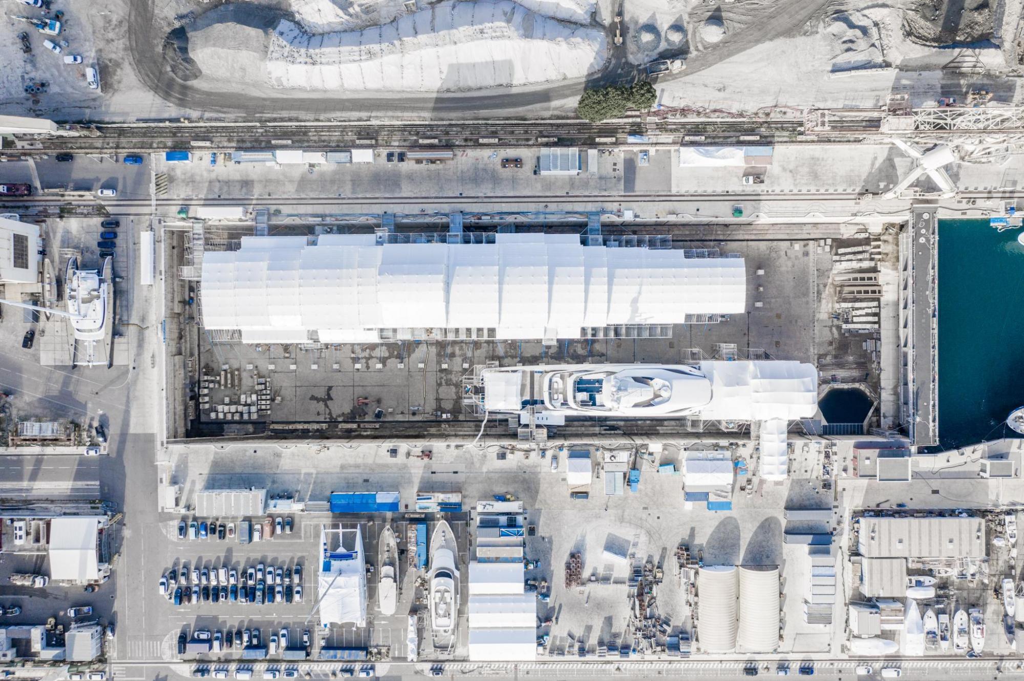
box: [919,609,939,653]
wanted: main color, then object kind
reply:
white boat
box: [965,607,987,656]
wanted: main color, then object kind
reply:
white boat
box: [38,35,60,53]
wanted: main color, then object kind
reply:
white vehicle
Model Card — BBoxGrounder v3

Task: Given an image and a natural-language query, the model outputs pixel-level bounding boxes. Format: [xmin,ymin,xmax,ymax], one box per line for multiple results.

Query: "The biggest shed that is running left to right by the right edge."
[854,513,986,558]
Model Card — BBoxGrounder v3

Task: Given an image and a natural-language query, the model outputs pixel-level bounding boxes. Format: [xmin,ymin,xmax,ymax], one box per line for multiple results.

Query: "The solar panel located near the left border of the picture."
[13,233,29,268]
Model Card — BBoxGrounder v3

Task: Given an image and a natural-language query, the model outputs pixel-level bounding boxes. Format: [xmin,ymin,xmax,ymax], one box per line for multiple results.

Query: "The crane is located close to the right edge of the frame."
[868,124,1024,201]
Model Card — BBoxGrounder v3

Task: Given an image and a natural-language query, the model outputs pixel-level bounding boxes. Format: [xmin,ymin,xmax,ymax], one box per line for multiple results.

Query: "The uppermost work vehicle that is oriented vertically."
[612,6,624,48]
